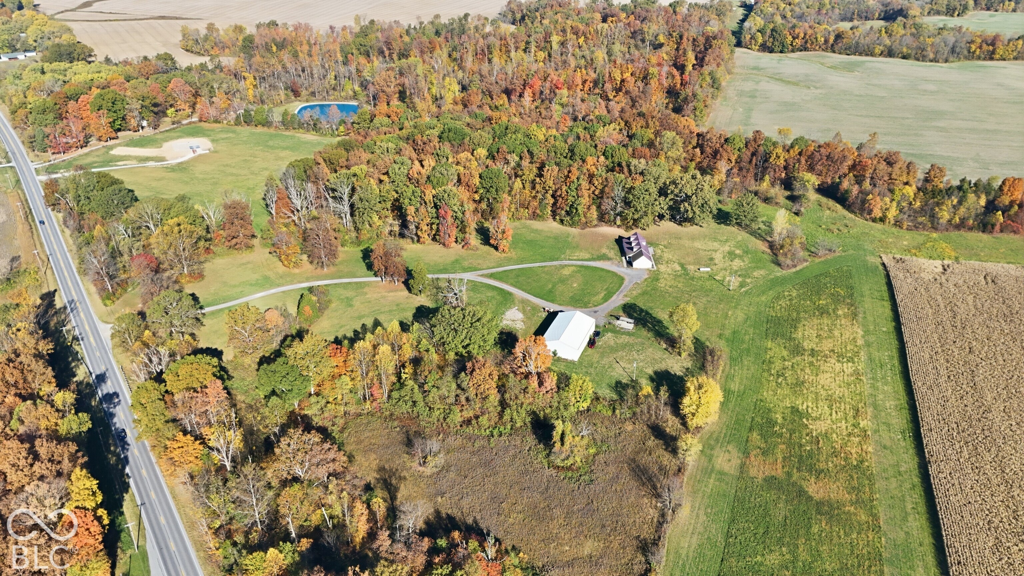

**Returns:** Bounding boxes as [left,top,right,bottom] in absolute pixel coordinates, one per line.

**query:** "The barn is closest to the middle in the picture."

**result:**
[542,309,596,361]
